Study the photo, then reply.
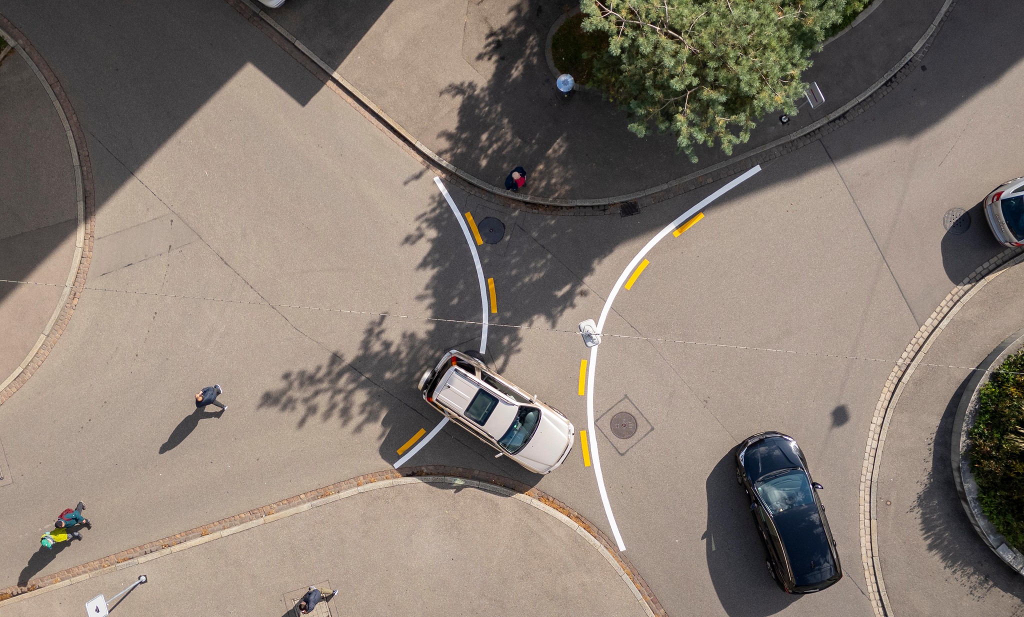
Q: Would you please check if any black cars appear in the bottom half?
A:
No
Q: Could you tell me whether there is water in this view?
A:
No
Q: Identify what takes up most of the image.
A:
paved ground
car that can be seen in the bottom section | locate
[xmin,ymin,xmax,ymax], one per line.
[419,350,576,474]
